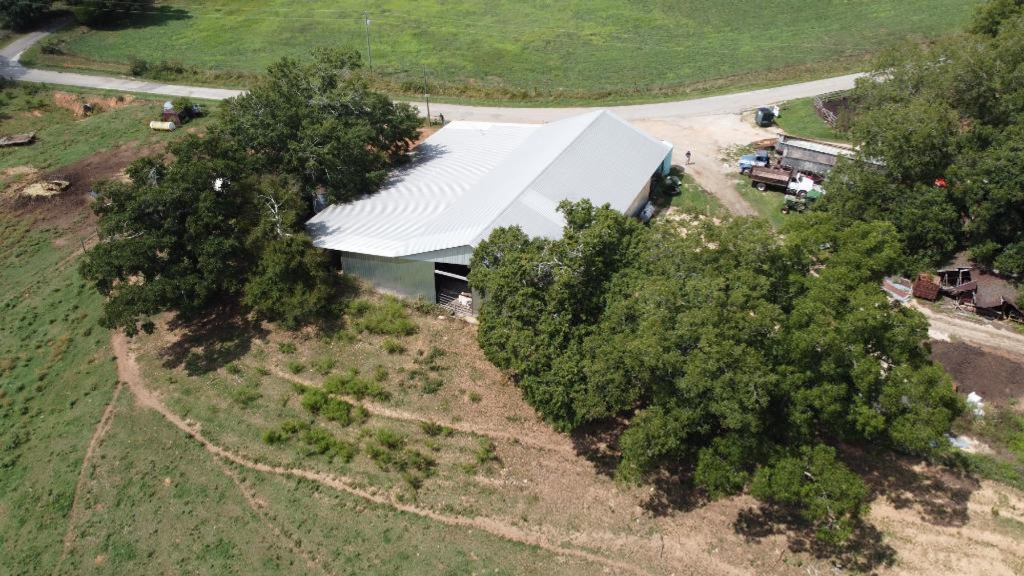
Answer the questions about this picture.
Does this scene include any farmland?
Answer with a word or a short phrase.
Yes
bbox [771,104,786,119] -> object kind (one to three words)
car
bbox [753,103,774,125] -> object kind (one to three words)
vehicle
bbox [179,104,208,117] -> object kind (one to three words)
vehicle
